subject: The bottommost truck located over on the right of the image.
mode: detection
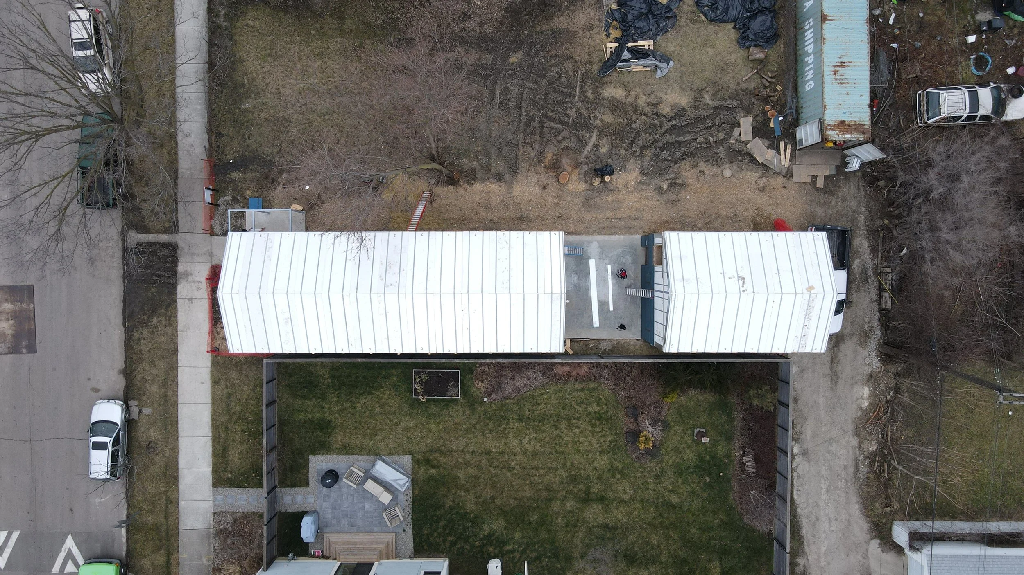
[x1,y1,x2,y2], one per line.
[808,221,855,333]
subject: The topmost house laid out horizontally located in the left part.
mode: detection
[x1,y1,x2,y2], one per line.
[217,231,566,354]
